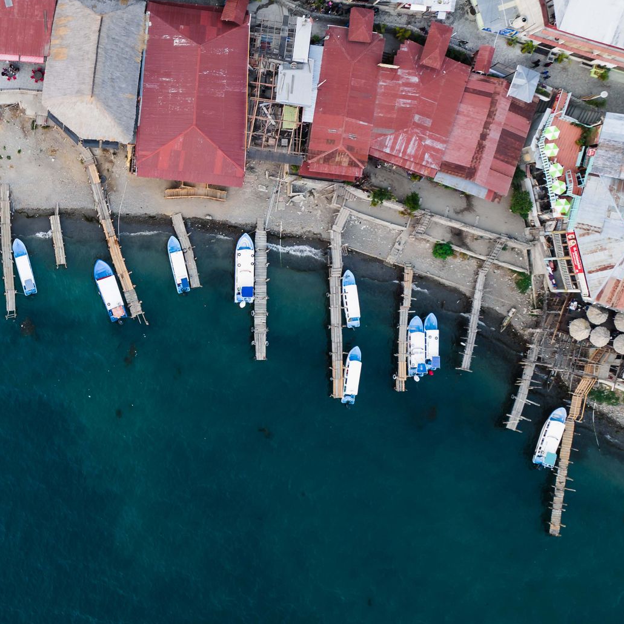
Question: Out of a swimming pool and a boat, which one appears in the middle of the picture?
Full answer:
Visible in the middle of the picture is a boat.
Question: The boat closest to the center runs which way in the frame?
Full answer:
What the image shows is the boat closest to the center lying vertically.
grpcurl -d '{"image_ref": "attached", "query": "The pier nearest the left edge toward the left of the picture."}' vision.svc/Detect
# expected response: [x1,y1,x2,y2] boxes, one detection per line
[0,185,17,319]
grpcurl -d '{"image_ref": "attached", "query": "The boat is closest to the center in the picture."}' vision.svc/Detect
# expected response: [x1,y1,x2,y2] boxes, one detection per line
[342,270,362,330]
